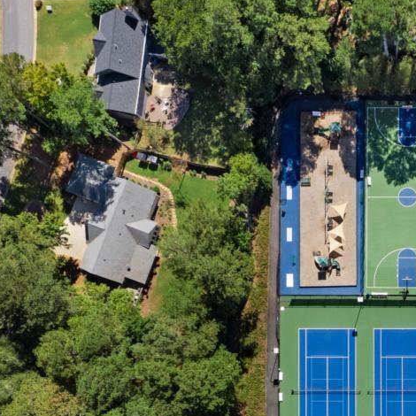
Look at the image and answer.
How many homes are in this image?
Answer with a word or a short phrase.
2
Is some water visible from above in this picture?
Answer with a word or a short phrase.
No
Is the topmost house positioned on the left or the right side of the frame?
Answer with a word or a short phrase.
left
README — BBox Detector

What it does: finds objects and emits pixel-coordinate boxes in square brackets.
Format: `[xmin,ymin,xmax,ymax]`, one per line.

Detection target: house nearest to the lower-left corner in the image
[66,155,166,284]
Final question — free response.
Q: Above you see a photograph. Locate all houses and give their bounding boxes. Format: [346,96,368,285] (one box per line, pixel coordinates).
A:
[91,5,158,121]
[66,155,166,284]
